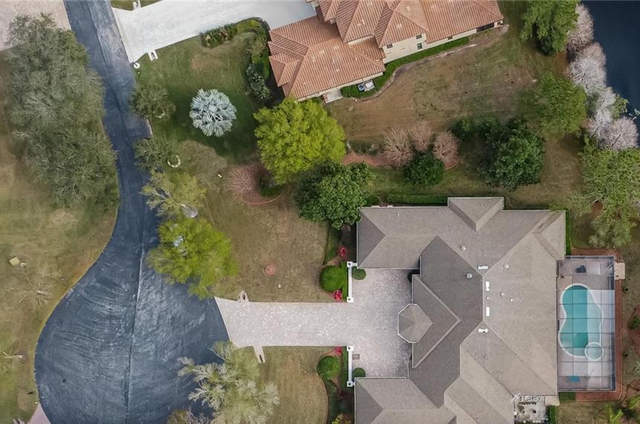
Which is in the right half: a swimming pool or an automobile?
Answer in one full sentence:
It is a swimming pool that can be seen in the right half.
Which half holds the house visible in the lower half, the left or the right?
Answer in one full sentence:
The house visible in the lower half appears in the right half of the scene.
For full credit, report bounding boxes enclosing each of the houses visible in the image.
[354,196,566,424]
[268,0,503,102]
